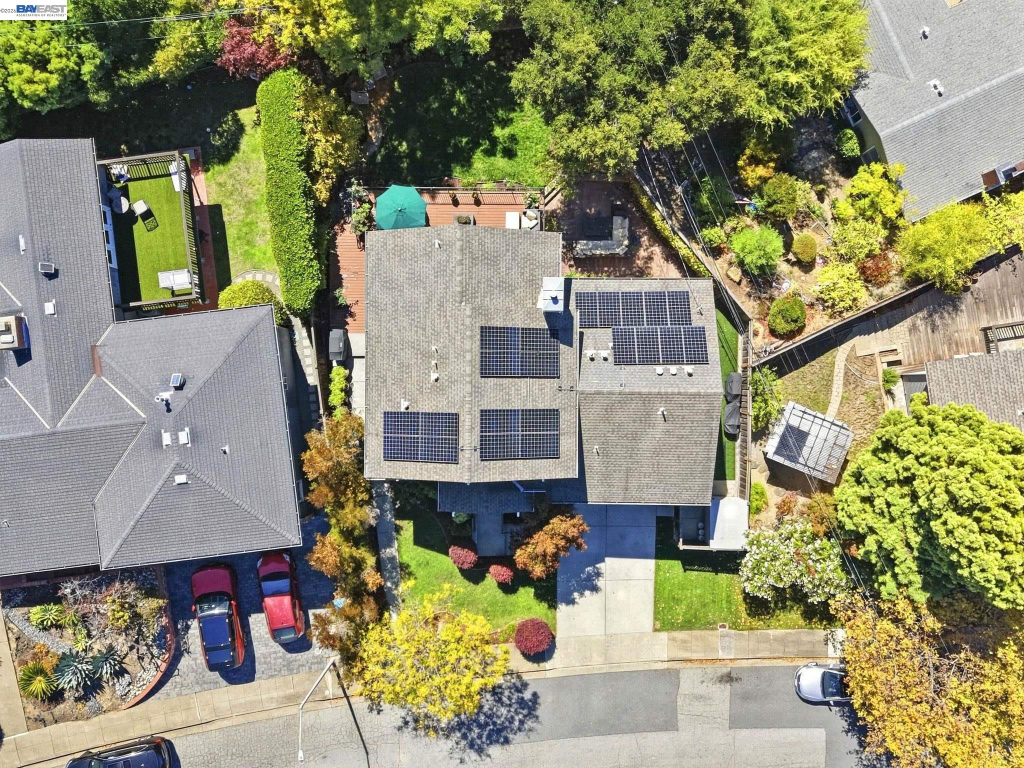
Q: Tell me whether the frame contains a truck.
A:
No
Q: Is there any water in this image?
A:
No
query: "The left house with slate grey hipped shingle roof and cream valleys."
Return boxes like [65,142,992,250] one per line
[0,137,313,579]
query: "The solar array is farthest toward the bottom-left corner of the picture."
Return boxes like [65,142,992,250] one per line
[383,411,458,464]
